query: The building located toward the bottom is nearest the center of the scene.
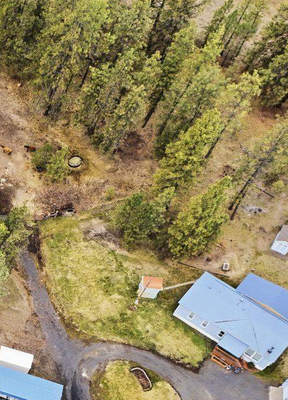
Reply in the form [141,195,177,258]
[137,276,163,296]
